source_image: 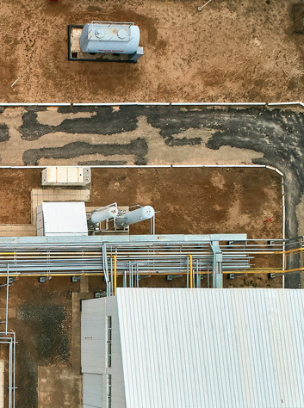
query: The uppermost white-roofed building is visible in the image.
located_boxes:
[38,201,88,236]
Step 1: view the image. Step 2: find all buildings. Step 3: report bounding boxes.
[38,201,88,236]
[82,286,304,408]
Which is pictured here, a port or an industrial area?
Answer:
industrial area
